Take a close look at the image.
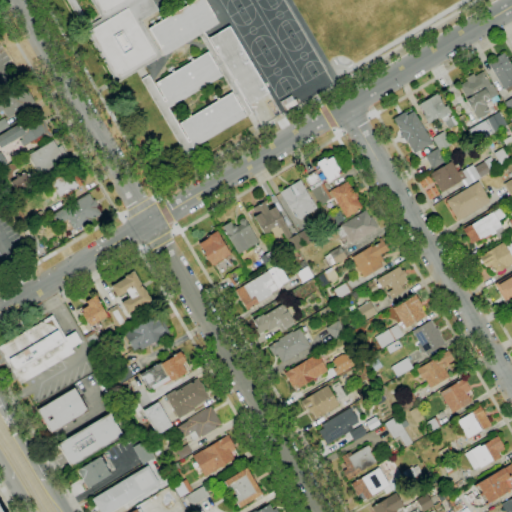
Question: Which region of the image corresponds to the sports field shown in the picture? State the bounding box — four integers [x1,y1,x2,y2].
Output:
[298,0,456,61]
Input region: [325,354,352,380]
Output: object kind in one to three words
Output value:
building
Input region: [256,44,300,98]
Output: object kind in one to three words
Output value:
basketball court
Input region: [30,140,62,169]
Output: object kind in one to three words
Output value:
house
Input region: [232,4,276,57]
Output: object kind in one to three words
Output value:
basketball court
